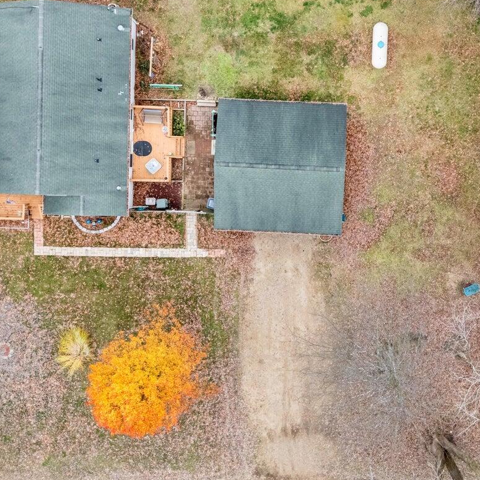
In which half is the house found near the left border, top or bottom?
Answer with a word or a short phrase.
top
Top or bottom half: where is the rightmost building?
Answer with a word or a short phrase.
top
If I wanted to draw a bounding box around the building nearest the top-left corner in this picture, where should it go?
[0,0,141,218]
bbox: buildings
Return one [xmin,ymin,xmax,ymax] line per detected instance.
[211,97,348,239]
[0,0,141,218]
